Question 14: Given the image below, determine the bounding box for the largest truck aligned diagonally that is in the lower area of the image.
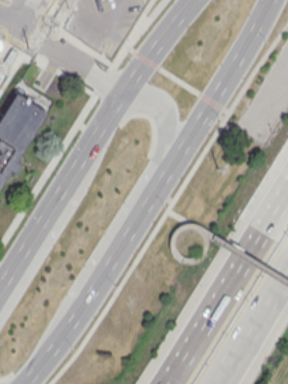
[208,294,232,329]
